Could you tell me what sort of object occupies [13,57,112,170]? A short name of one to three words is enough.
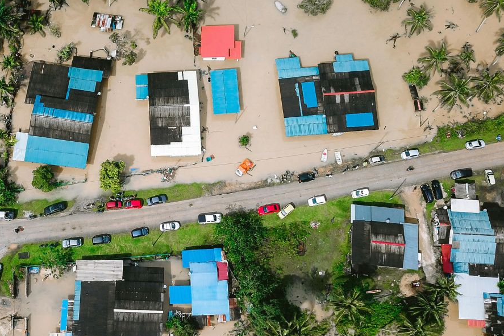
house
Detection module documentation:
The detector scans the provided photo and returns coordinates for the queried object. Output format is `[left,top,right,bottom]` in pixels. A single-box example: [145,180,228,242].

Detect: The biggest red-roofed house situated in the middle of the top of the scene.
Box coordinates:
[200,26,242,63]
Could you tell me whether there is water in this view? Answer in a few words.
Yes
